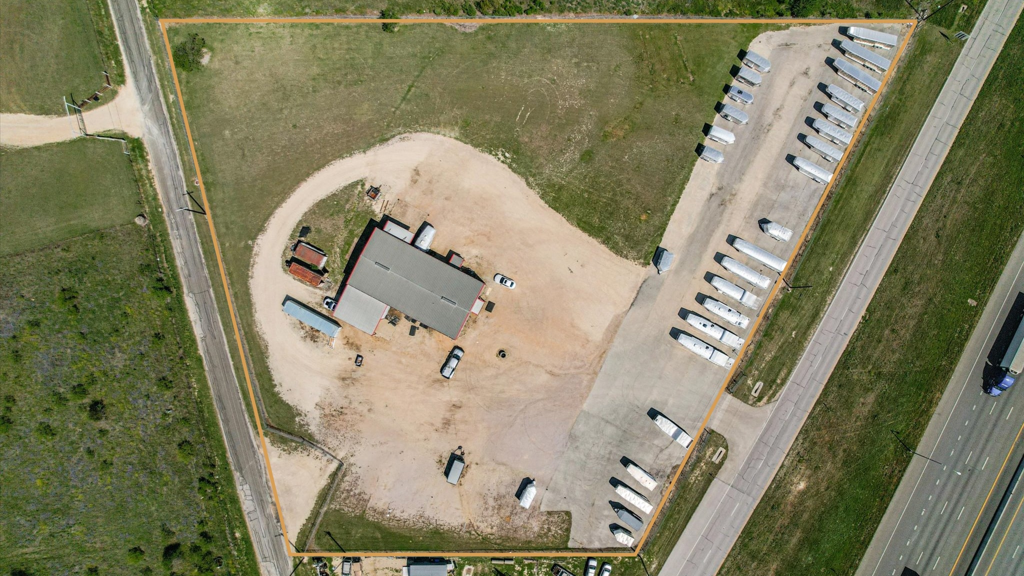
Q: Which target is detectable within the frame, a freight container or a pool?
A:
freight container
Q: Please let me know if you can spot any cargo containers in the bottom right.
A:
No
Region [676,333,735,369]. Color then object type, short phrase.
white trailer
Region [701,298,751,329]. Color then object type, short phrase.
white trailer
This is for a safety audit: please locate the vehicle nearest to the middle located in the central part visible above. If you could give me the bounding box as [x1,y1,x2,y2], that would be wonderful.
[493,274,516,288]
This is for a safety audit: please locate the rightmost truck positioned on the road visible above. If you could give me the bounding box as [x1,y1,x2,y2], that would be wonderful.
[987,321,1024,397]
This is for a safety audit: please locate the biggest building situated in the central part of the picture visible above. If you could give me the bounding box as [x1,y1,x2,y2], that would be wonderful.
[332,220,485,340]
